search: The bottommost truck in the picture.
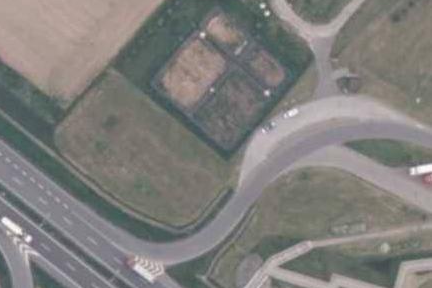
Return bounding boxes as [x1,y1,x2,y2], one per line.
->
[122,254,157,284]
